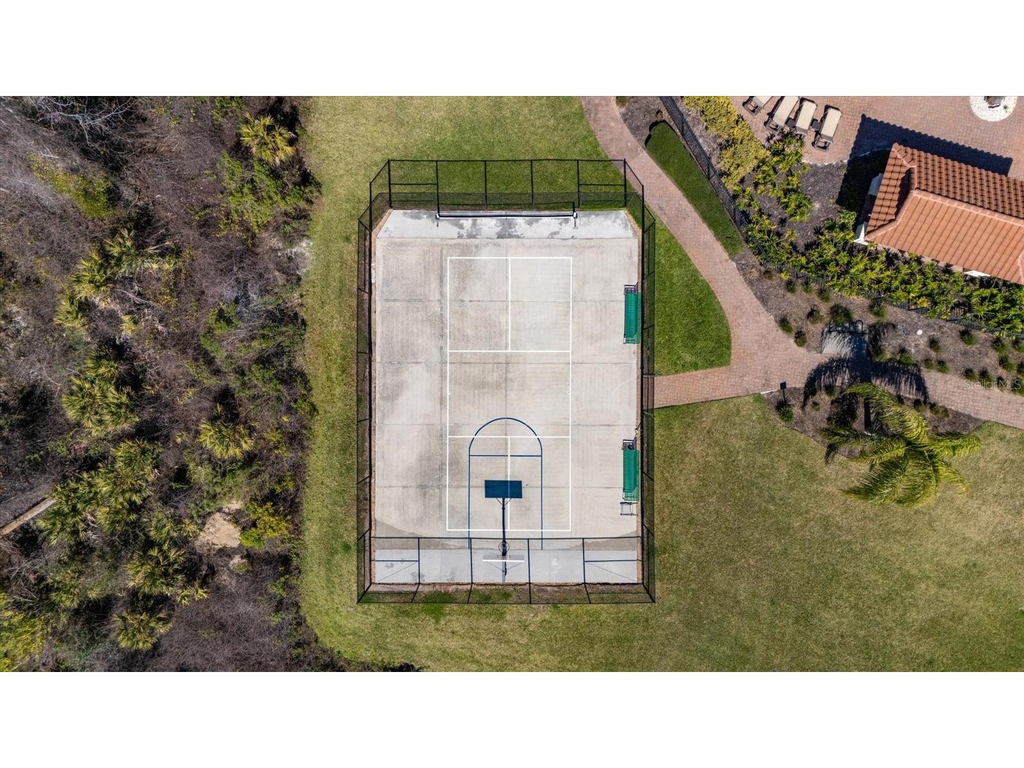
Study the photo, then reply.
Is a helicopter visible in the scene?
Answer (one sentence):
No, the scene contains no helicopter.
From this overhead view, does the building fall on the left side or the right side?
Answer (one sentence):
The building sits on the right side.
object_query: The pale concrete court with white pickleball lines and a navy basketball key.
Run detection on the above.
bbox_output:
[375,210,639,583]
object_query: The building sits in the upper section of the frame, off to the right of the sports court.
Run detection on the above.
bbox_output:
[851,142,1024,290]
